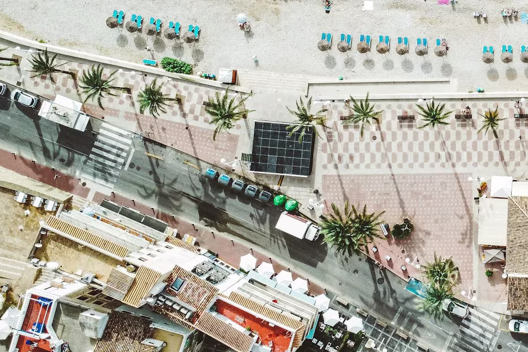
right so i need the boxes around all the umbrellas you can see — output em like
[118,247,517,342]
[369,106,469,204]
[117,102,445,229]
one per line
[364,335,375,348]
[239,254,257,271]
[357,40,370,53]
[520,51,528,63]
[501,51,513,63]
[107,16,119,29]
[276,268,291,285]
[345,316,363,334]
[482,51,494,63]
[314,294,329,312]
[258,262,274,278]
[291,276,307,293]
[0,320,12,339]
[322,309,340,326]
[337,40,350,53]
[376,41,389,54]
[164,27,176,40]
[184,31,196,43]
[415,43,428,56]
[1,308,21,327]
[396,42,409,55]
[237,13,247,23]
[434,44,447,57]
[126,20,138,33]
[318,39,331,52]
[145,23,157,36]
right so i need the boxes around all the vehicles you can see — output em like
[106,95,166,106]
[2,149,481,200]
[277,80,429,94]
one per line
[444,298,470,318]
[0,81,10,95]
[277,207,322,239]
[13,90,40,108]
[37,91,91,128]
[509,318,528,333]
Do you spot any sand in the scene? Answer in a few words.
Yes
